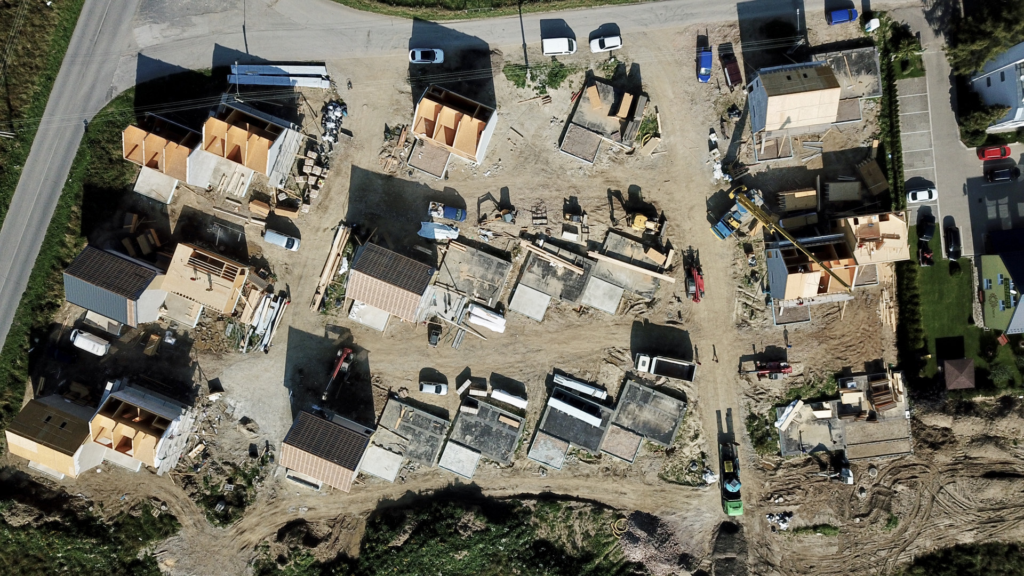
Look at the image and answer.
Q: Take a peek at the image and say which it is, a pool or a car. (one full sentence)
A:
Of the two, only a car appears.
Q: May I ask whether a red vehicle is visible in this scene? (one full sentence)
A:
Yes, there's a red vehicle down there.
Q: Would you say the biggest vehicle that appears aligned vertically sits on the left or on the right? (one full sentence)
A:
It is on the right.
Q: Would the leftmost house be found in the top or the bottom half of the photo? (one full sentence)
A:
It is in the bottom half that the leftmost house appears.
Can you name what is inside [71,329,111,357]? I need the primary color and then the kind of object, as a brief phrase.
white van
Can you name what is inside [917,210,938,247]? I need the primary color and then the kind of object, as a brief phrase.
black truck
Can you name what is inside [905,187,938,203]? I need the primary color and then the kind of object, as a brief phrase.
white car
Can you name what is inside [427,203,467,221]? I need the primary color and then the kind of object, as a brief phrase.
blue vehicle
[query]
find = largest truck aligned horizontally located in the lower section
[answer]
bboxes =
[633,353,698,384]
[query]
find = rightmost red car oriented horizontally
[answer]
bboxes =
[975,144,1010,161]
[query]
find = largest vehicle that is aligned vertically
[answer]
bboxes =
[720,442,745,519]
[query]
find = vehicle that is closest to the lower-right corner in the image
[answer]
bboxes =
[814,468,857,482]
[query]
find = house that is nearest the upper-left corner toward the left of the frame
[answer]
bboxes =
[122,111,214,187]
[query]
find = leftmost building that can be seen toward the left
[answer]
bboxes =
[5,399,101,477]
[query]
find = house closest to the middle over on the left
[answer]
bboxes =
[344,242,436,323]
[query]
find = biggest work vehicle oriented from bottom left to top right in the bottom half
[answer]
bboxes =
[323,348,355,398]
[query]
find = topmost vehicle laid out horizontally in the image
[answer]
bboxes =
[823,7,858,25]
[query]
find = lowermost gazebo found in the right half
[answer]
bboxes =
[938,359,975,390]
